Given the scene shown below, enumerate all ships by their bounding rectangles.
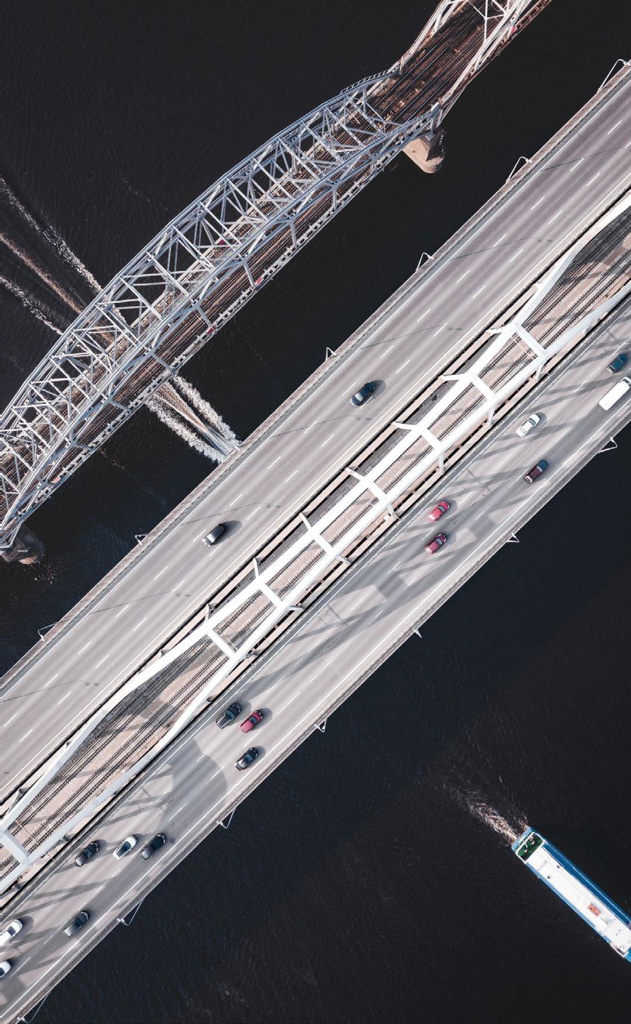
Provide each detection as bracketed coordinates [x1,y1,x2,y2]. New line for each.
[511,825,631,956]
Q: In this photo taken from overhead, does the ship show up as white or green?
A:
white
